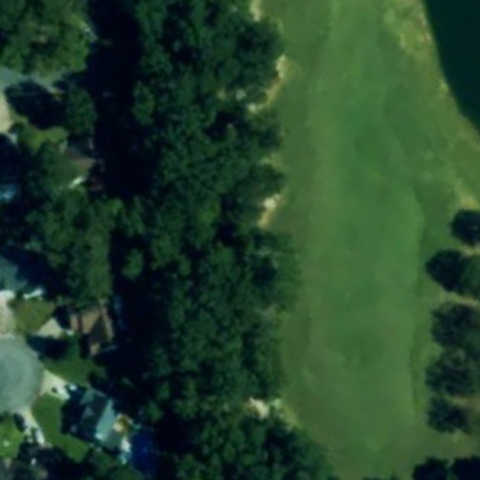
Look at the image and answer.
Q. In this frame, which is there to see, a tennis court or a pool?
pool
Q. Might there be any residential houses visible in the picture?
Yes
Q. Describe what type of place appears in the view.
golf course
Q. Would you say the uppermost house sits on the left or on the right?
left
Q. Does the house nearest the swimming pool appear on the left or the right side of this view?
left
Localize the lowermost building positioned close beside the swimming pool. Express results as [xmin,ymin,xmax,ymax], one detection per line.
[61,378,130,450]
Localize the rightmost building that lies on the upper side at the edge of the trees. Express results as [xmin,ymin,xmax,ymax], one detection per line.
[61,139,101,185]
